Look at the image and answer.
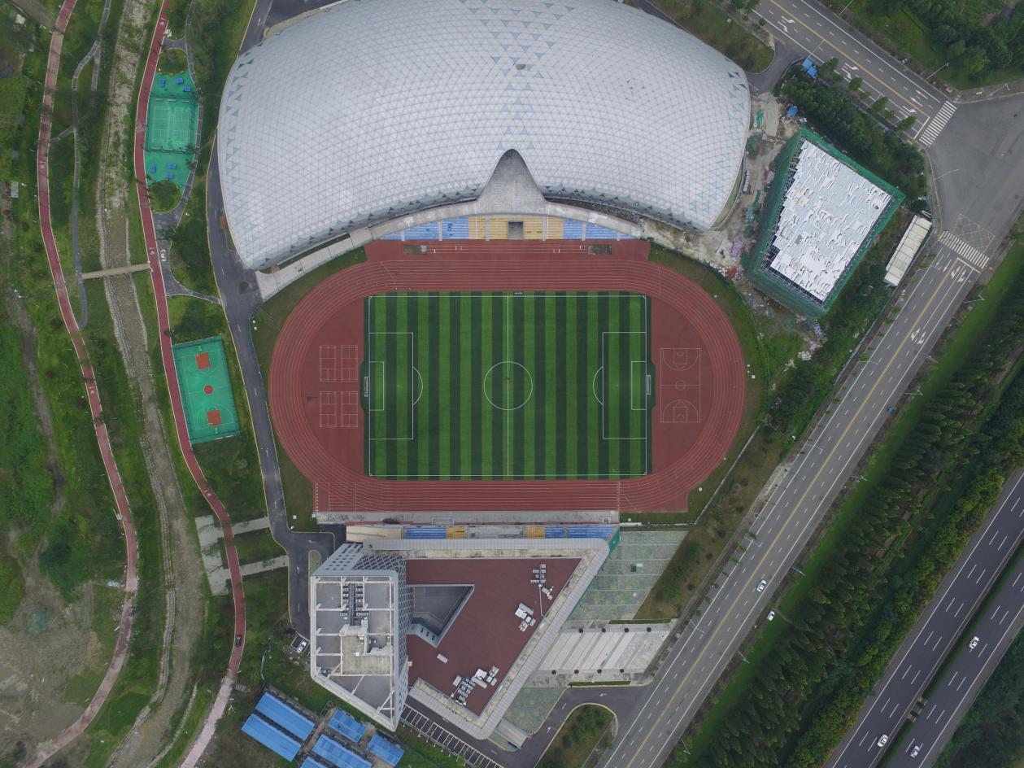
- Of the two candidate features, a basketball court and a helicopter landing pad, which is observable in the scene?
basketball court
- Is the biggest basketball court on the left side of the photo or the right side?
left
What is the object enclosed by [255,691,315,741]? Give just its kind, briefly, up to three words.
shed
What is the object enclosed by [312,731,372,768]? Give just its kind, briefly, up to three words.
shed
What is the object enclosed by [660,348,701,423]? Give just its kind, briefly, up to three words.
basketball court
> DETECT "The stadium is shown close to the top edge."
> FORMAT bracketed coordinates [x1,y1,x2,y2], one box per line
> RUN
[216,0,751,268]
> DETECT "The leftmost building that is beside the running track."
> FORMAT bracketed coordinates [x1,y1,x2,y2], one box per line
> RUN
[310,545,416,731]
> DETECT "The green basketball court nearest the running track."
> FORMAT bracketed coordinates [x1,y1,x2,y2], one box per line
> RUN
[173,336,239,444]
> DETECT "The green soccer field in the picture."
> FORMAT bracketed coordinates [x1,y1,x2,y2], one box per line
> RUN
[360,292,655,480]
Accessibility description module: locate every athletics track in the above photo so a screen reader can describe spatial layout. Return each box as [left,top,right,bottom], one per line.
[269,240,746,512]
